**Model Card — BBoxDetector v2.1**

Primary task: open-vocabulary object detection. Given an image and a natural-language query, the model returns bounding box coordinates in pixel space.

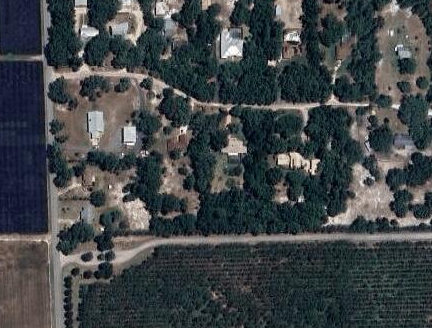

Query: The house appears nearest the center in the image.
[220,135,247,164]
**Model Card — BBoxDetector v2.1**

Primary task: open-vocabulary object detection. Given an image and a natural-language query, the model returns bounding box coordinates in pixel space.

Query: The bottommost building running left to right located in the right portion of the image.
[267,152,321,176]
